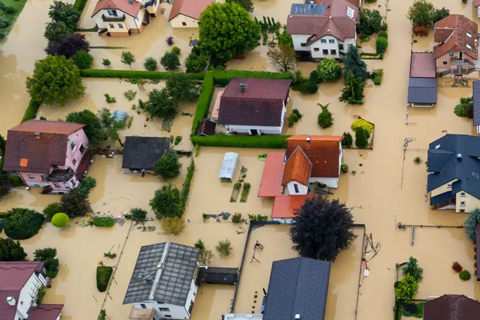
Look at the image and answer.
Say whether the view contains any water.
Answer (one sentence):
Yes, there's water in this view.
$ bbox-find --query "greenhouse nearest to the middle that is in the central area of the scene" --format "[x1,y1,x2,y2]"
[219,147,238,181]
